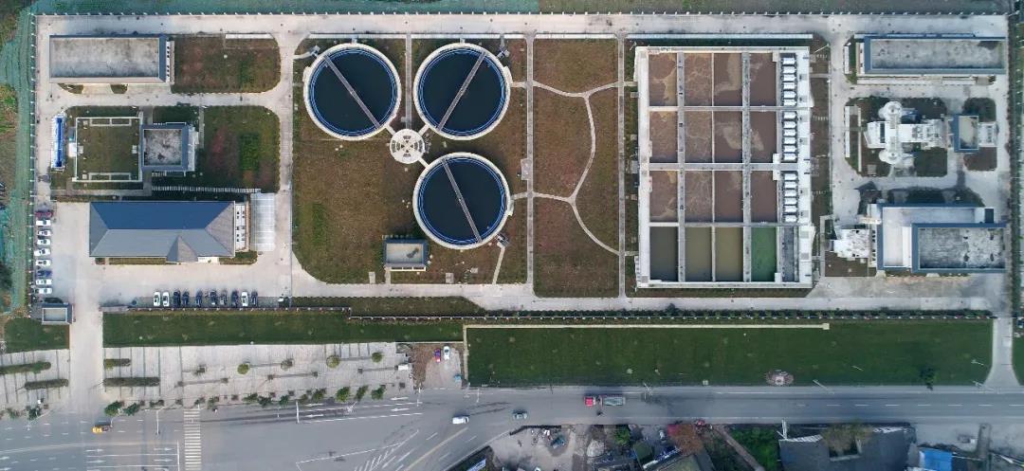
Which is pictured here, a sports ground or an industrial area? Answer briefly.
industrial area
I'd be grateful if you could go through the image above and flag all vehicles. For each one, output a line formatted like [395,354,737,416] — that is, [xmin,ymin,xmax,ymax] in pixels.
[43,295,60,302]
[194,291,202,306]
[452,417,468,425]
[250,291,257,306]
[443,345,450,361]
[219,291,227,306]
[230,291,238,306]
[33,248,49,256]
[160,291,169,306]
[434,348,440,363]
[36,239,51,245]
[180,291,189,306]
[586,397,627,407]
[171,291,180,306]
[240,291,247,306]
[209,291,217,306]
[151,291,160,306]
[35,288,51,295]
[33,220,51,227]
[35,279,51,286]
[34,260,50,267]
[512,412,528,420]
[35,270,51,277]
[35,213,52,220]
[36,230,51,236]
[91,425,110,433]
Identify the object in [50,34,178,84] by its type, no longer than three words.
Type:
building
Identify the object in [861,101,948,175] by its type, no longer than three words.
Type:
building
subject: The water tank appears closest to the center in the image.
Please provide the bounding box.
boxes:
[413,152,514,250]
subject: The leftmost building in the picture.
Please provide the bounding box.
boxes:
[41,303,78,326]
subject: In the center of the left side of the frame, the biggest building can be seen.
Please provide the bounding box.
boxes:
[90,202,247,263]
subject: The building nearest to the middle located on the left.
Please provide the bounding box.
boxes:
[383,235,429,273]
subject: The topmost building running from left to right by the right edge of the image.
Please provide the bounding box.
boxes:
[857,35,1006,84]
